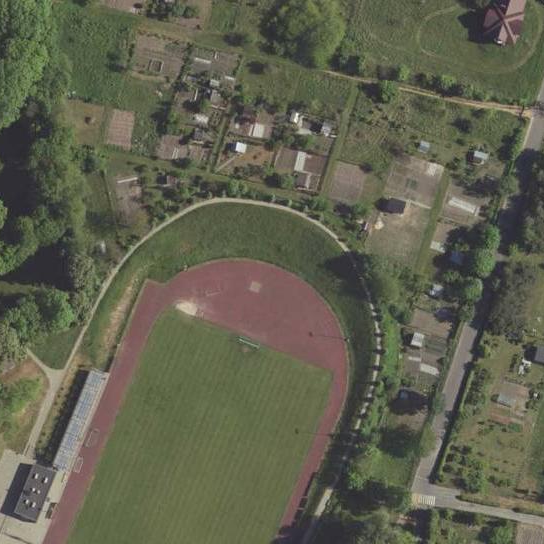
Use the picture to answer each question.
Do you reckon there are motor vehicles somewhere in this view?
No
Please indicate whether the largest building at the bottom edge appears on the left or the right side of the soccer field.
to the left of it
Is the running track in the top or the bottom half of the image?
bottom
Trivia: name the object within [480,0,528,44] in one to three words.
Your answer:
house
